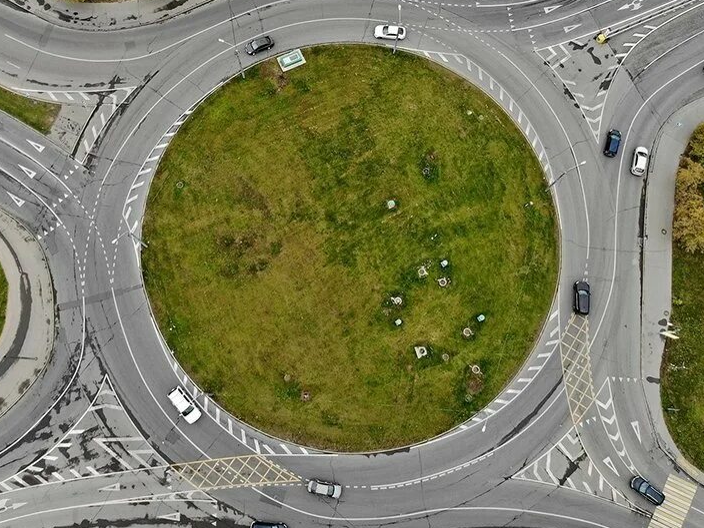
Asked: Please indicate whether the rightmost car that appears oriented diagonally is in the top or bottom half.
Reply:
bottom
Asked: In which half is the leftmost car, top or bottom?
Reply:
bottom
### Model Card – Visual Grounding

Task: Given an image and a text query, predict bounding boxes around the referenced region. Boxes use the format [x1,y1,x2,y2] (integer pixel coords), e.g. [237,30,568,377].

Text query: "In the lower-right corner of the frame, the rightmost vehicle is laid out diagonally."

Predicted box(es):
[629,475,667,508]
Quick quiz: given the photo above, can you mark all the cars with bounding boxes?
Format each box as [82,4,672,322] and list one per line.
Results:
[168,386,198,425]
[629,475,667,508]
[374,24,406,41]
[308,479,342,500]
[573,281,591,314]
[251,520,287,528]
[630,145,649,177]
[602,129,622,156]
[245,36,274,57]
